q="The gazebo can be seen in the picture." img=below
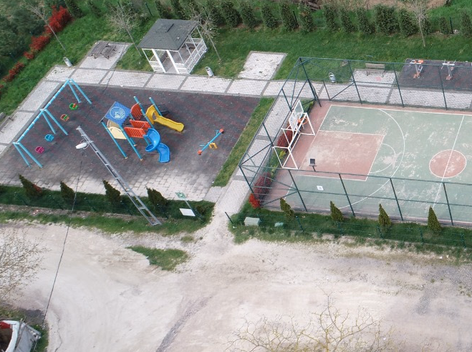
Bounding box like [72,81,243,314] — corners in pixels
[135,19,206,73]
